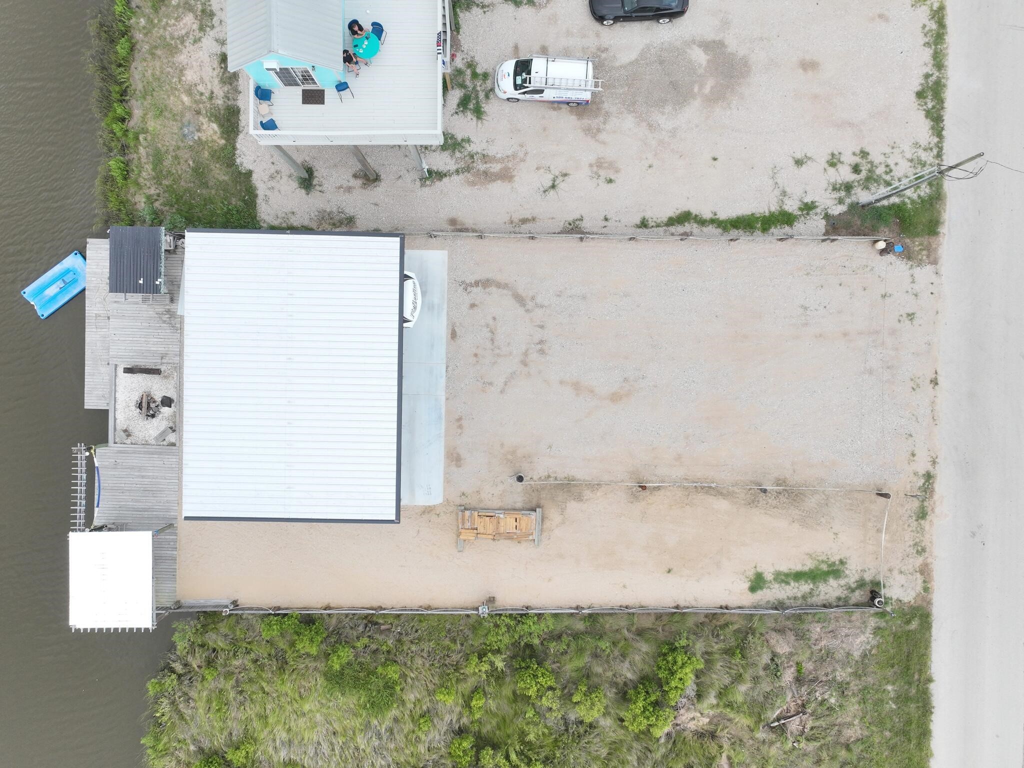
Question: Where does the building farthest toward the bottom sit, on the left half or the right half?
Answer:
left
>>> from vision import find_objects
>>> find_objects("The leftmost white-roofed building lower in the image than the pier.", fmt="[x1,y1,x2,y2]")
[69,529,158,632]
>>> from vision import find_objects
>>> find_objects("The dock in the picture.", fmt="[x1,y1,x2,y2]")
[84,239,110,409]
